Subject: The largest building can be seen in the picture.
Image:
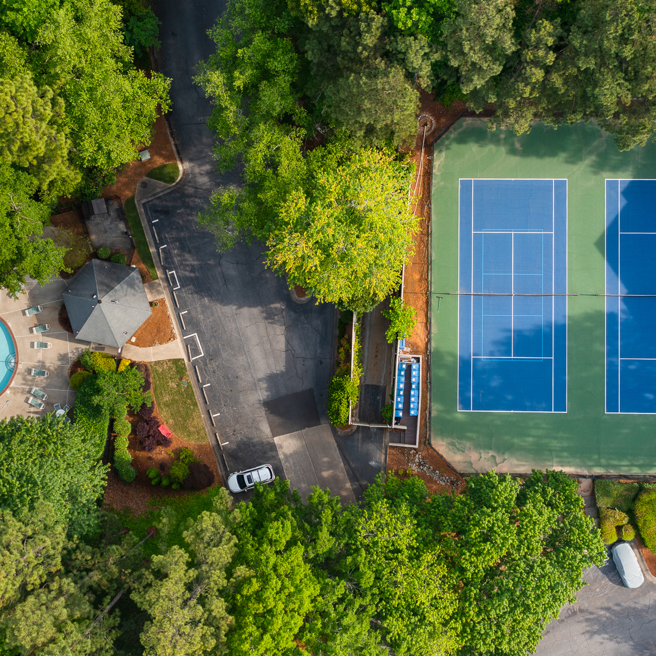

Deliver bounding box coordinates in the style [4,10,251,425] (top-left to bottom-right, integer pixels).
[62,258,153,348]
